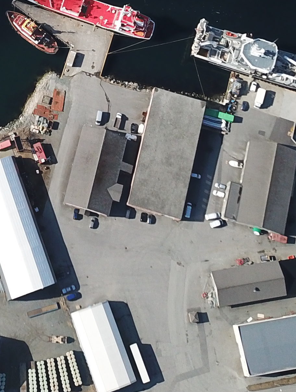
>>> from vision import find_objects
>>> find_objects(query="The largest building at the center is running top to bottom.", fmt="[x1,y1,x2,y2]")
[124,88,206,222]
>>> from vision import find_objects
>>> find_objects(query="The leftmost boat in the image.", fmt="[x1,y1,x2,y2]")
[5,10,59,54]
